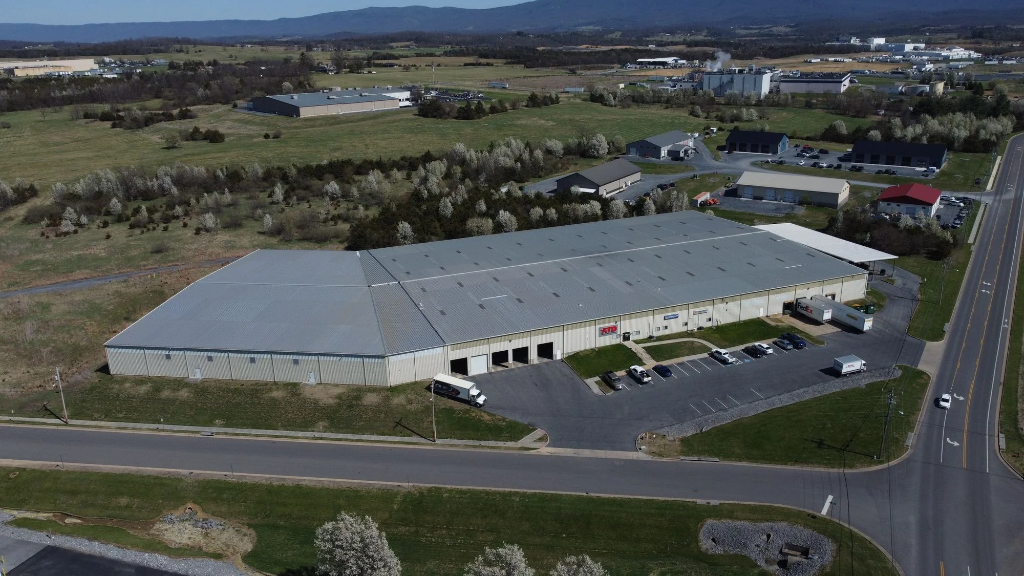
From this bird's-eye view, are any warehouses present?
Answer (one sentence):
Yes, there is a warehouse in the image.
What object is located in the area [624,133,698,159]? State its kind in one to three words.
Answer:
shed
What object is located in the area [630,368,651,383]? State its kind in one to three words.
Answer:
vehicle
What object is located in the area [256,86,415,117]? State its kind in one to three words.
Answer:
building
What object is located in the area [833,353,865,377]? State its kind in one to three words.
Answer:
truck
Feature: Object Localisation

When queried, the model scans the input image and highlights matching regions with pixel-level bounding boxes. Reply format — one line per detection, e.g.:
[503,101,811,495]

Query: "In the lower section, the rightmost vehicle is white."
[938,391,952,409]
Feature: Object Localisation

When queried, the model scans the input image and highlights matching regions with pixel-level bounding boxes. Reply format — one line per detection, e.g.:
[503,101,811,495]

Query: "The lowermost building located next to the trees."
[104,210,869,386]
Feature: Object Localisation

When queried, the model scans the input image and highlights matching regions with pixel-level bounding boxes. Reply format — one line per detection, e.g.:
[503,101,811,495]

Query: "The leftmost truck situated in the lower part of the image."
[431,378,485,411]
